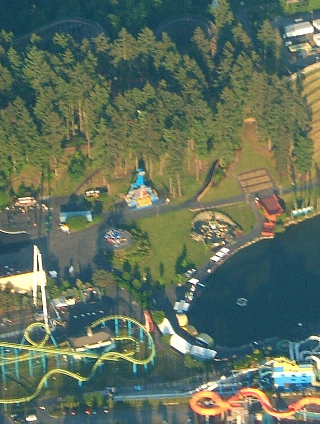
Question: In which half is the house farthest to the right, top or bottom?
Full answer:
Seen from above, the house farthest to the right lies in the bottom half of the view.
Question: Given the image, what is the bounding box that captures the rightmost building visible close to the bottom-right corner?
[272,360,317,391]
